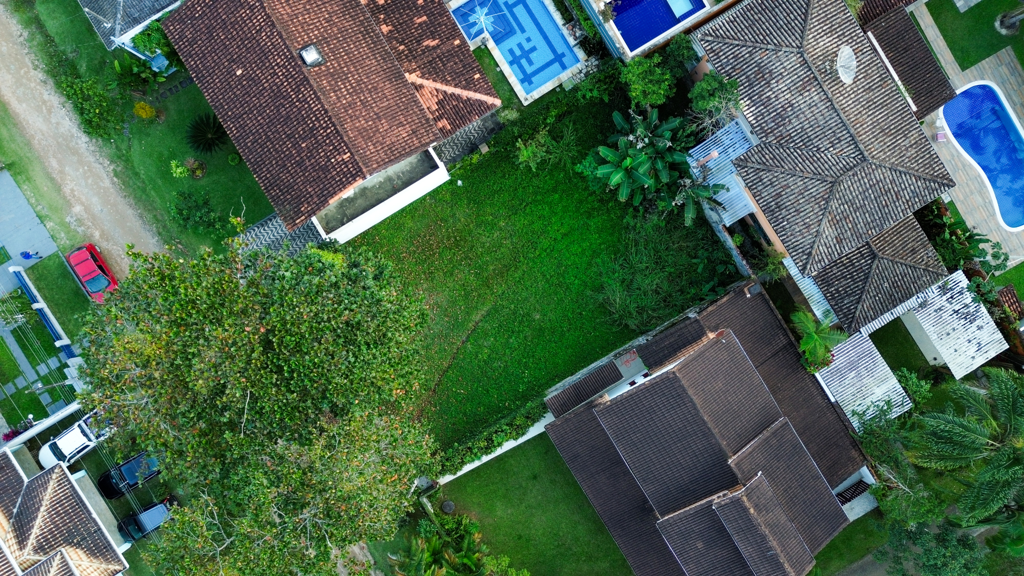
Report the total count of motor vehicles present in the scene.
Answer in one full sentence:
The number of motor vehicles here is 4.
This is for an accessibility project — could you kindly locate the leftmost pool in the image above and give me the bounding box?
[447,0,587,108]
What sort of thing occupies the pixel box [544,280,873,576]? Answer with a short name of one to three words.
house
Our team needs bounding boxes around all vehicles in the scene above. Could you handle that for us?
[103,444,178,498]
[122,490,176,542]
[35,400,127,468]
[68,235,126,302]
